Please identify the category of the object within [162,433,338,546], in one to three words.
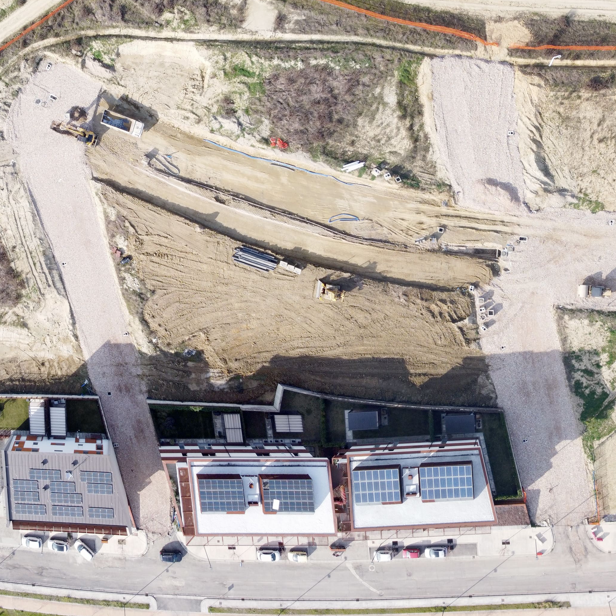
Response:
house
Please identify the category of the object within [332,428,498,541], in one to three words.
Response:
house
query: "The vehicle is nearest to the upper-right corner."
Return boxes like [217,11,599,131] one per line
[579,286,609,300]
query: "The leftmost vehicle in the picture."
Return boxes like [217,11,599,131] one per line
[22,539,43,551]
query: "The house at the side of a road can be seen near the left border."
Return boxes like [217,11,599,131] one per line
[1,426,138,536]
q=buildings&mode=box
[1,426,138,536]
[332,428,498,541]
[162,433,338,546]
